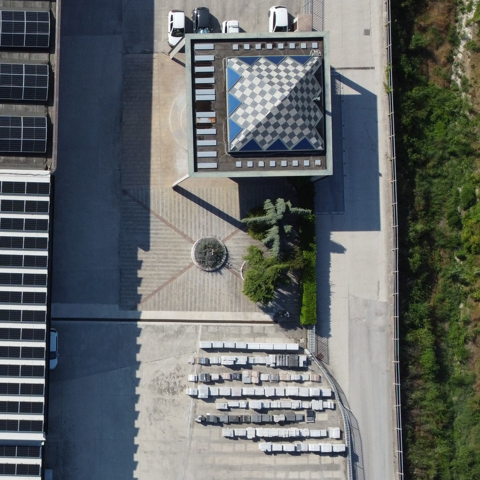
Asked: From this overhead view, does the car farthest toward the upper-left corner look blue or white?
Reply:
white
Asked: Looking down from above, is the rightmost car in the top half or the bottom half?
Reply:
top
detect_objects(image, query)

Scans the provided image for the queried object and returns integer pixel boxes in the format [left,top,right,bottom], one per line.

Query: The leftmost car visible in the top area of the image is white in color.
[168,6,189,48]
